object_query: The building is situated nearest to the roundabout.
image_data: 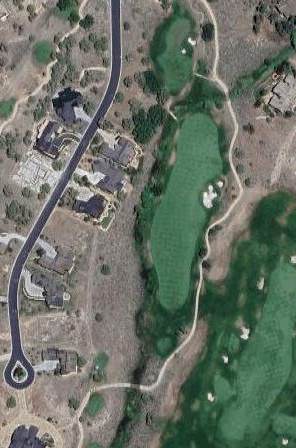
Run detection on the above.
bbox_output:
[42,341,81,379]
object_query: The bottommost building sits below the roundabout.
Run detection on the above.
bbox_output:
[8,424,45,448]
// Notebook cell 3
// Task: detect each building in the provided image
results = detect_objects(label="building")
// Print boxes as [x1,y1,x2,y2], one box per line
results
[53,88,83,117]
[41,245,77,273]
[34,118,65,158]
[73,193,114,230]
[31,269,70,308]
[8,424,45,448]
[262,67,296,116]
[42,341,81,379]
[94,160,124,187]
[105,135,140,165]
